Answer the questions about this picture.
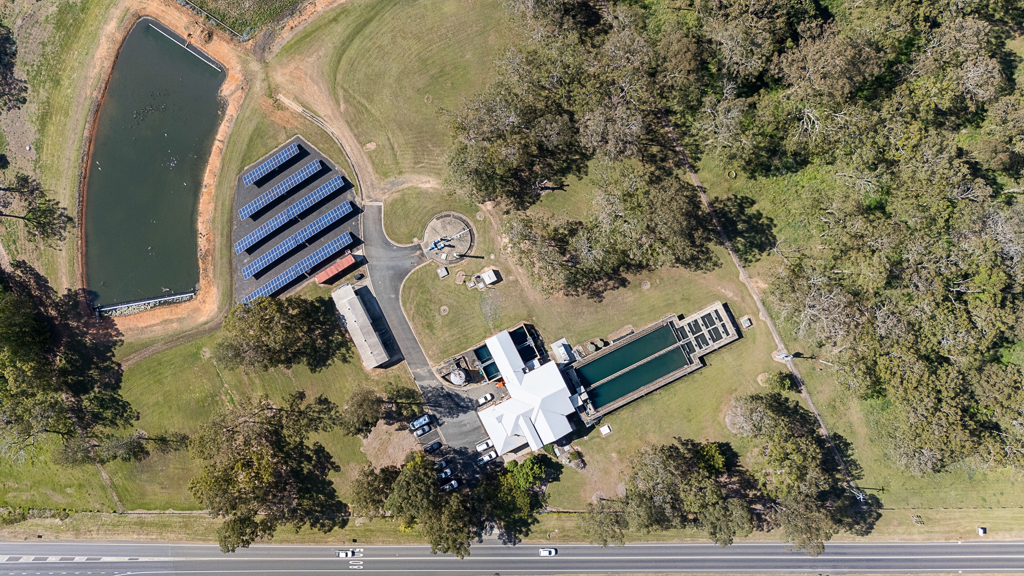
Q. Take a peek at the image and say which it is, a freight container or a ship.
freight container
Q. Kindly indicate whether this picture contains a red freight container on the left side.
Yes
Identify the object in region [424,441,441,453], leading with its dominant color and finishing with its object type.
black vehicle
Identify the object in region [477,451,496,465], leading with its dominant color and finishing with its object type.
white vehicle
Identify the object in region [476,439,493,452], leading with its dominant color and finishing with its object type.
white vehicle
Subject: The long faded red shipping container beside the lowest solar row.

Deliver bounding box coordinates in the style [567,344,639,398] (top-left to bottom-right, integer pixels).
[315,254,358,284]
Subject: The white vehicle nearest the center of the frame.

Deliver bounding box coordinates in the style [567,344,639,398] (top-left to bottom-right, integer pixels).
[474,392,493,406]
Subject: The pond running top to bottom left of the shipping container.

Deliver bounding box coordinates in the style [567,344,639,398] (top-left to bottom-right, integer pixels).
[84,17,228,319]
